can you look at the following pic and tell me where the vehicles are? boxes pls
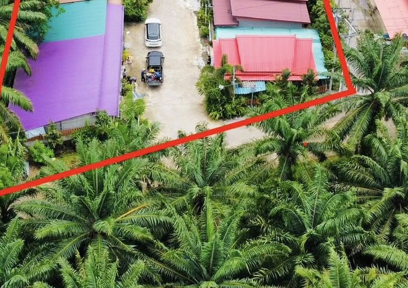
[144,21,162,50]
[145,51,166,91]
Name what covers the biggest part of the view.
trees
